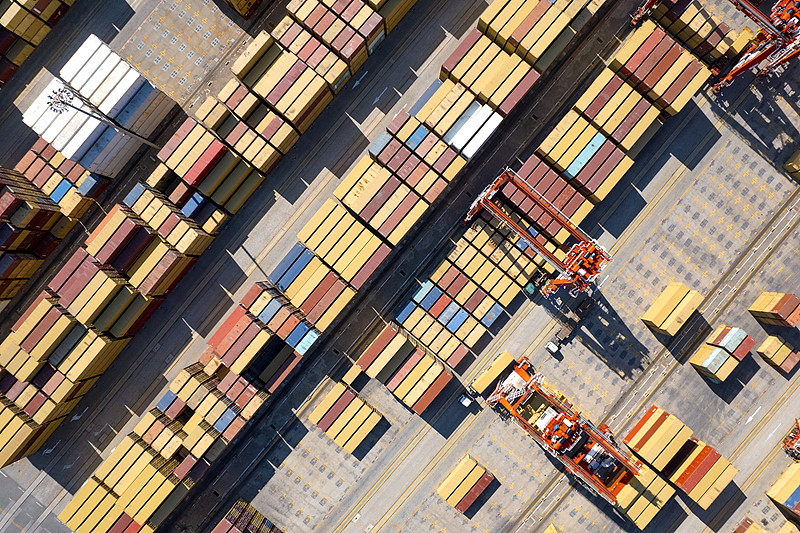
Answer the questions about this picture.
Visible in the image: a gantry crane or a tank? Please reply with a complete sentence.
Looking from above, you can make out a gantry crane.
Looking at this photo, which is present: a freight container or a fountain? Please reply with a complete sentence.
This aerial view contains a freight container.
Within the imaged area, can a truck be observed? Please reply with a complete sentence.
Yes, there's a truck here.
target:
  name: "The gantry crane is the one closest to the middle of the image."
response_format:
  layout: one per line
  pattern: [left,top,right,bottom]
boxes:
[458,159,617,297]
